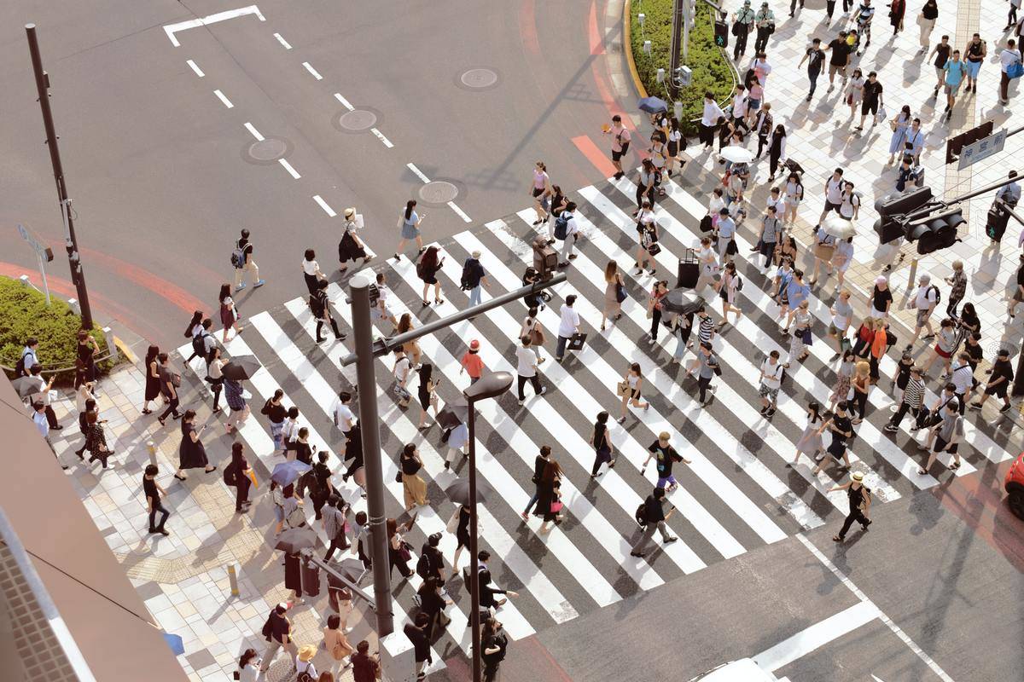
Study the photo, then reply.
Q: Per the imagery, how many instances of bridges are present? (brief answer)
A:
none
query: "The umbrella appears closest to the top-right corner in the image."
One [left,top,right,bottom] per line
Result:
[819,224,857,253]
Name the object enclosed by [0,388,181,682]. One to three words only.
building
